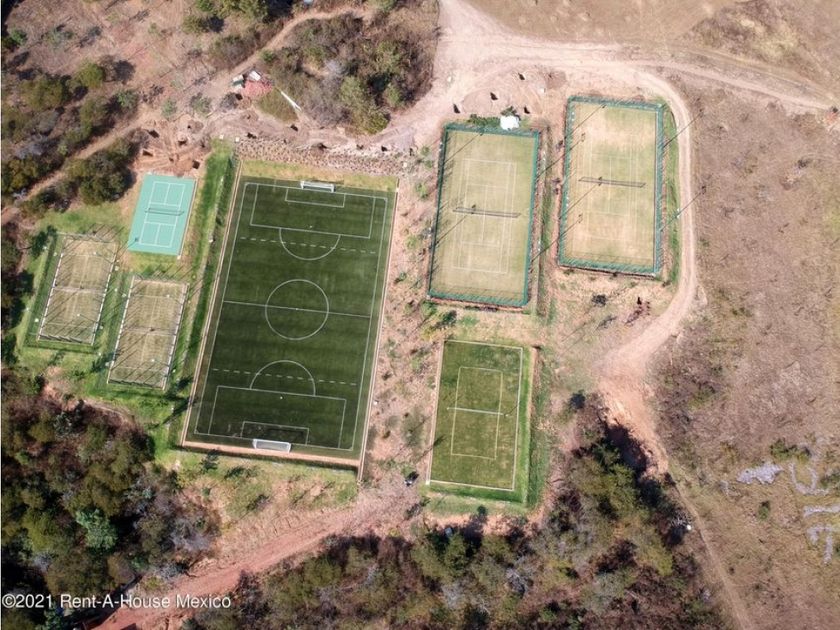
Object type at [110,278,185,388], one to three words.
sports court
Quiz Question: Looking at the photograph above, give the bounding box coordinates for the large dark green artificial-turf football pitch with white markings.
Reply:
[180,158,404,485]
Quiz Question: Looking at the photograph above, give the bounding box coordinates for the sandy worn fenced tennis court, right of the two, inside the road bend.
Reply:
[559,104,659,273]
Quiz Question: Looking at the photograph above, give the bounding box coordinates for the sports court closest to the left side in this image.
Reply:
[38,239,116,345]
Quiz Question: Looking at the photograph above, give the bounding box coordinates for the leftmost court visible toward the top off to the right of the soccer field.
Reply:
[428,134,537,307]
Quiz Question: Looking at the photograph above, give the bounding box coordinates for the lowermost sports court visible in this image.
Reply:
[427,340,535,503]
